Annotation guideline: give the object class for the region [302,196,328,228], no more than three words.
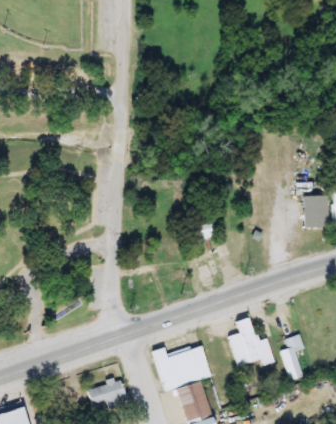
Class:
house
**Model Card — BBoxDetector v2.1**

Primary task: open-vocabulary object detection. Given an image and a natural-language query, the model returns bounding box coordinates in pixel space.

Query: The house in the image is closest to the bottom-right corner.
[279,334,304,381]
